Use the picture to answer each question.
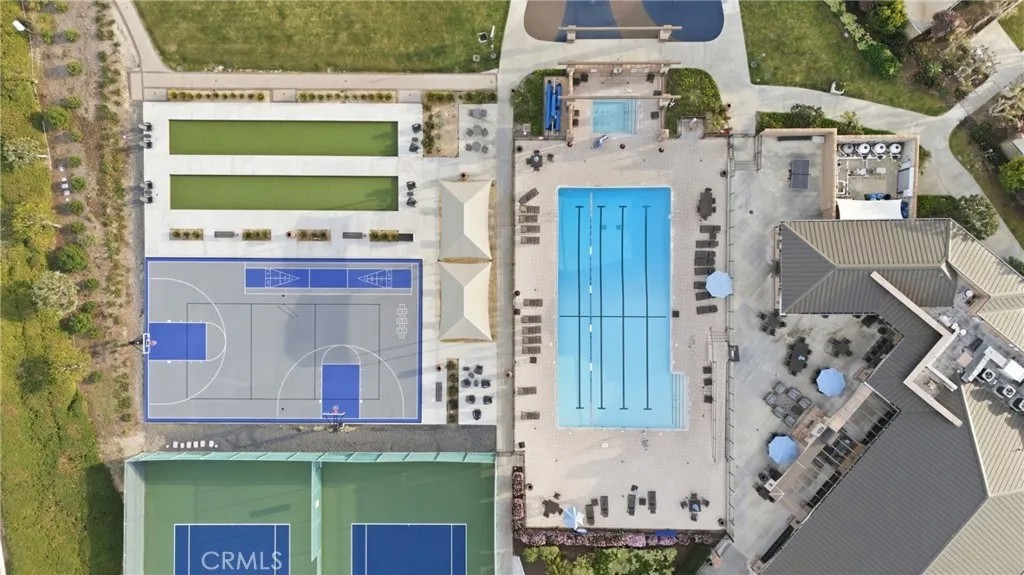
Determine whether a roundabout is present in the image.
No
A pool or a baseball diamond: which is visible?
pool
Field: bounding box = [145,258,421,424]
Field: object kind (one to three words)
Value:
basketball court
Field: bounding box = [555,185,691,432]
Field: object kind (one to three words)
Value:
swimming pool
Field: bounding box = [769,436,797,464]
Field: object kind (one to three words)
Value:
umbrella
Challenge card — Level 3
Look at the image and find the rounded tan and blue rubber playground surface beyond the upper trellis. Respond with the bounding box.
[524,0,724,41]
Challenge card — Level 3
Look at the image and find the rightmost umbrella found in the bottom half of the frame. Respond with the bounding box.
[817,368,844,395]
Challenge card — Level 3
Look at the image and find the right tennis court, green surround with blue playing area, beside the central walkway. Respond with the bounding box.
[319,462,493,575]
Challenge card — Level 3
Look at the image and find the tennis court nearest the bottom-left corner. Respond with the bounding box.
[144,453,319,575]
